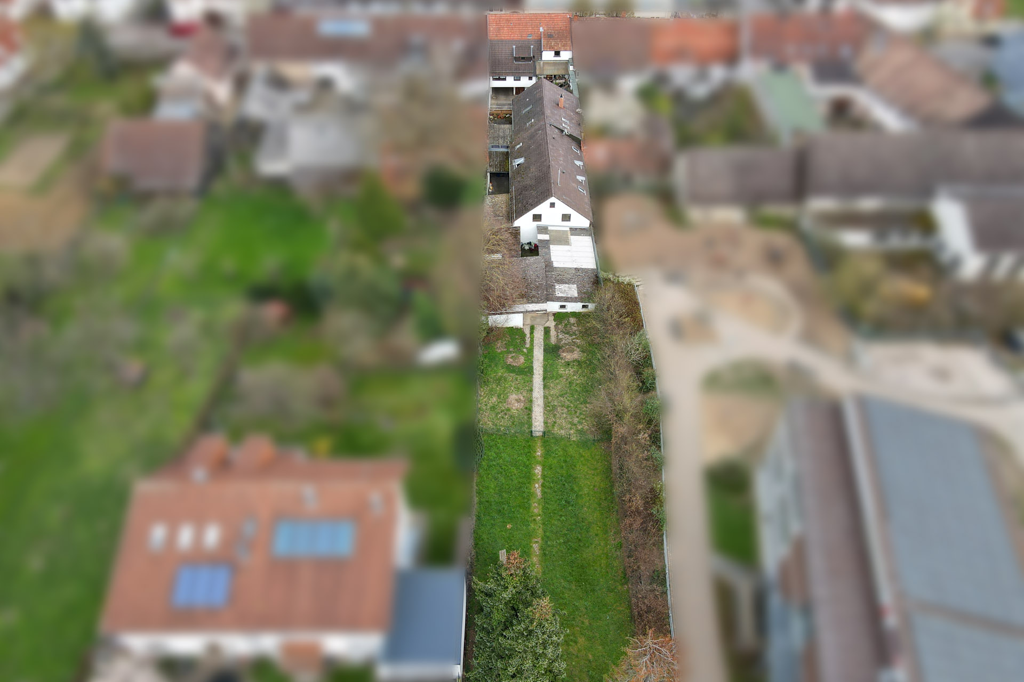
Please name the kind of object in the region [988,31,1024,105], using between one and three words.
building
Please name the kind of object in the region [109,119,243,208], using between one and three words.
barn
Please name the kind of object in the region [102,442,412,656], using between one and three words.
house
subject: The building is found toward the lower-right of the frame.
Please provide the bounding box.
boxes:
[778,395,1024,682]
